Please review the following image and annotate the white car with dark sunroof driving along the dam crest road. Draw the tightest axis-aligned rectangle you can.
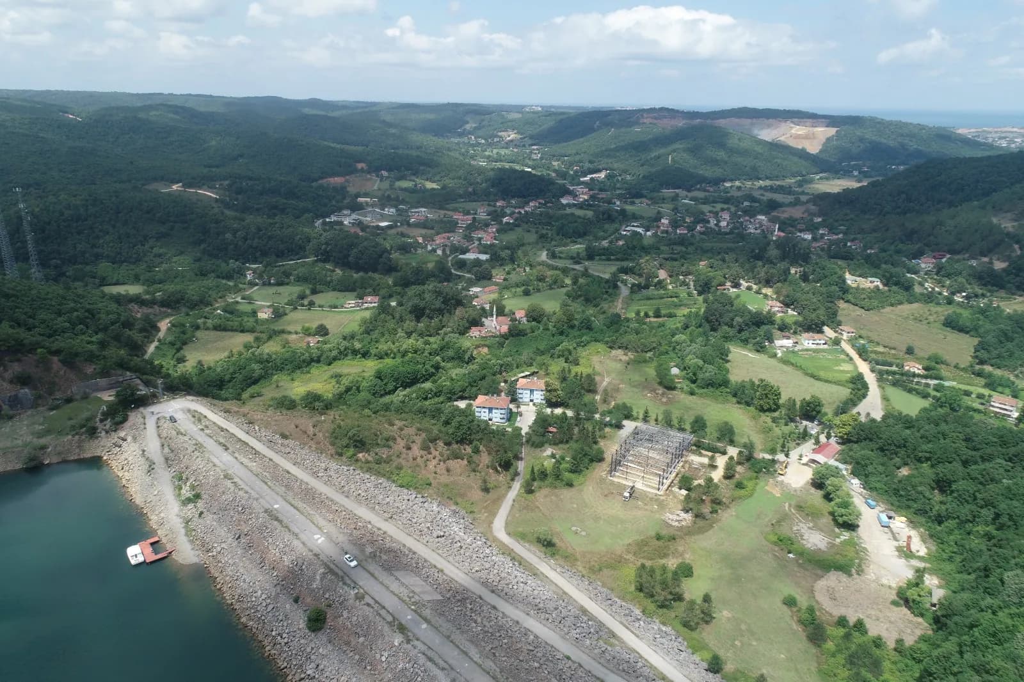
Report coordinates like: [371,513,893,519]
[341,552,359,568]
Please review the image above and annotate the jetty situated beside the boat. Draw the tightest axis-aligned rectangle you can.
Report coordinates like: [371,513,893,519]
[138,536,169,564]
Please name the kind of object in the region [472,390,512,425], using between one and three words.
building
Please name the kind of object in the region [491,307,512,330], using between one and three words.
building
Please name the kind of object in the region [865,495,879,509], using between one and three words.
vehicle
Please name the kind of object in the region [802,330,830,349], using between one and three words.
house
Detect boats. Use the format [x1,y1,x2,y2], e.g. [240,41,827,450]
[128,543,144,566]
